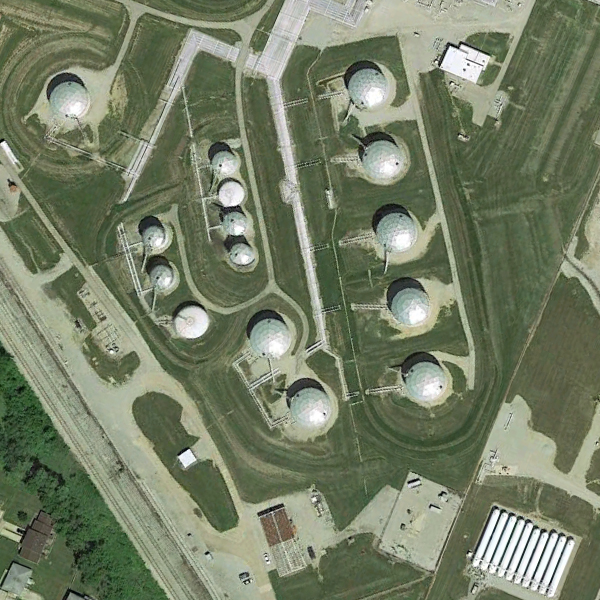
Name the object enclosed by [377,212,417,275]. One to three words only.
storage tank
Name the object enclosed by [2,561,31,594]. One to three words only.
house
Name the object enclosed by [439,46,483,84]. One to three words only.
building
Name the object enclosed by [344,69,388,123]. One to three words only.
storage tank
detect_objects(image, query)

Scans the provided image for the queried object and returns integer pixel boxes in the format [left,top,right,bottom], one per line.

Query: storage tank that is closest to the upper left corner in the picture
[50,80,90,139]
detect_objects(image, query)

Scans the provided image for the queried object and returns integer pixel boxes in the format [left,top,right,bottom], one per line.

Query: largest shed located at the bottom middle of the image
[259,507,295,546]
